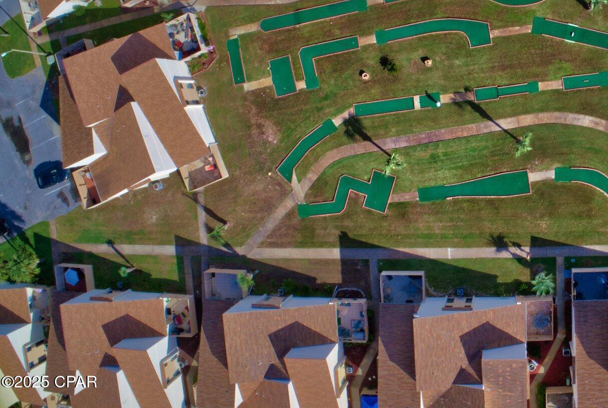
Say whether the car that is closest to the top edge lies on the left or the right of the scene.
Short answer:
left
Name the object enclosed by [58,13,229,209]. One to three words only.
house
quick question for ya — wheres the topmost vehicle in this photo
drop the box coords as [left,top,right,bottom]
[30,164,70,187]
